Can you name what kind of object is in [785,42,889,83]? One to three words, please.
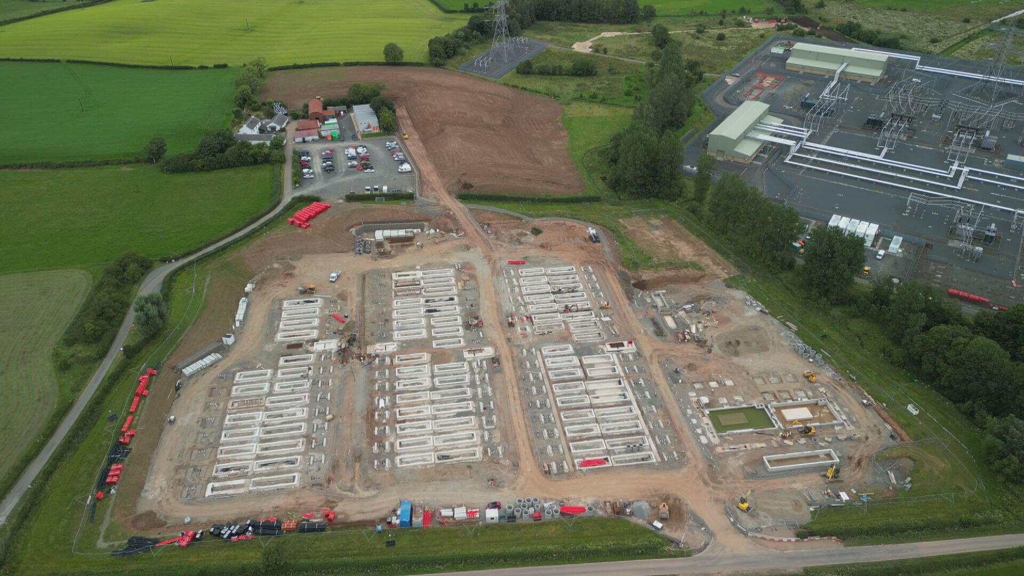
building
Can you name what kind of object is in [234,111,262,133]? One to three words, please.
house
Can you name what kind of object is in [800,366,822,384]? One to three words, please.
vehicle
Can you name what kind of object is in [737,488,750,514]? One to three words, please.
vehicle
